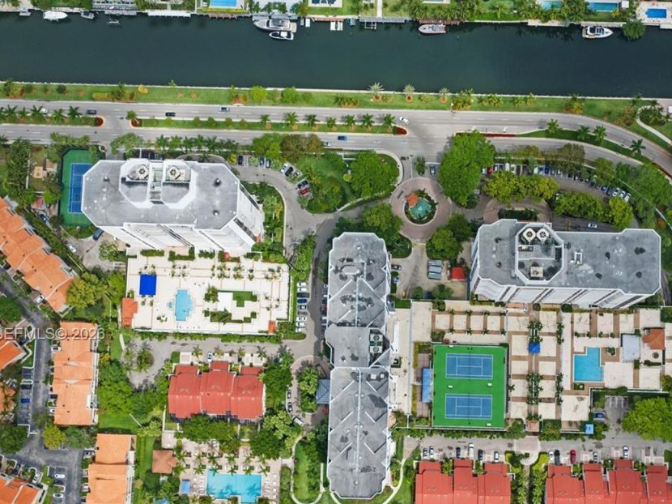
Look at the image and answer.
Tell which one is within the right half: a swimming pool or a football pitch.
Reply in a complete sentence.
The one visible within the right half is a swimming pool.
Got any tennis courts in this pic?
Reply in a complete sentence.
Yes, the photo shows a tennis court.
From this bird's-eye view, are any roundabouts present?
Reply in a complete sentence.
Yes, there's a roundabout here.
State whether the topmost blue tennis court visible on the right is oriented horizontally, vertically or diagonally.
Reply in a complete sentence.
What the image shows is the topmost blue tennis court visible on the right lying horizontally.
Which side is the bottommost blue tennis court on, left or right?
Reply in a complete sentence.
It is on the right.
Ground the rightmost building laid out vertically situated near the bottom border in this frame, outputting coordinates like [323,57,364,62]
[328,366,393,499]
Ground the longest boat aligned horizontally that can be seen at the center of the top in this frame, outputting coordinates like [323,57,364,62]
[252,16,298,32]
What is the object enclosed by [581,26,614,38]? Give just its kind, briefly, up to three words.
boat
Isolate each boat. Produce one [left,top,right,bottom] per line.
[44,11,69,20]
[81,12,95,20]
[418,24,446,33]
[252,16,298,32]
[581,26,614,38]
[20,10,32,17]
[269,31,295,40]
